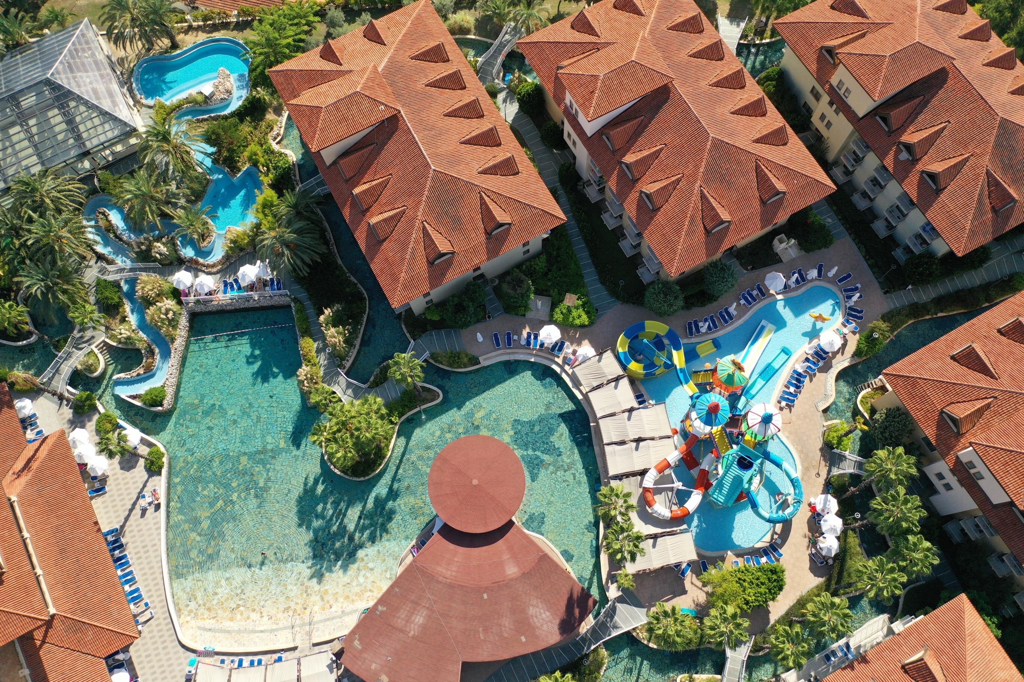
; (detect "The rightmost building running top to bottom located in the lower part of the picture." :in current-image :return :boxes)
[870,293,1024,645]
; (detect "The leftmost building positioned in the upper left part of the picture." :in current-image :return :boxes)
[0,16,147,211]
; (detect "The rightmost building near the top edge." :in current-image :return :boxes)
[777,0,1024,268]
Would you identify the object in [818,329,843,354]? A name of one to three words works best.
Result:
umbrella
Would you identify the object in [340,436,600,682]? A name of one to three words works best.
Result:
building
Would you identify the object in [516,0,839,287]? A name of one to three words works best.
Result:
building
